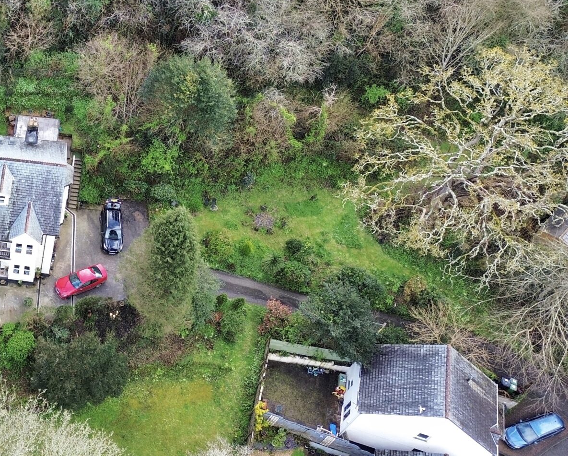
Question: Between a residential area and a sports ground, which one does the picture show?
residential area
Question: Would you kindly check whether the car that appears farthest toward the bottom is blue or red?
blue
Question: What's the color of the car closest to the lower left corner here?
red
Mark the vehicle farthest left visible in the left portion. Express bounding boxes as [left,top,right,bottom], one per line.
[50,259,113,301]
